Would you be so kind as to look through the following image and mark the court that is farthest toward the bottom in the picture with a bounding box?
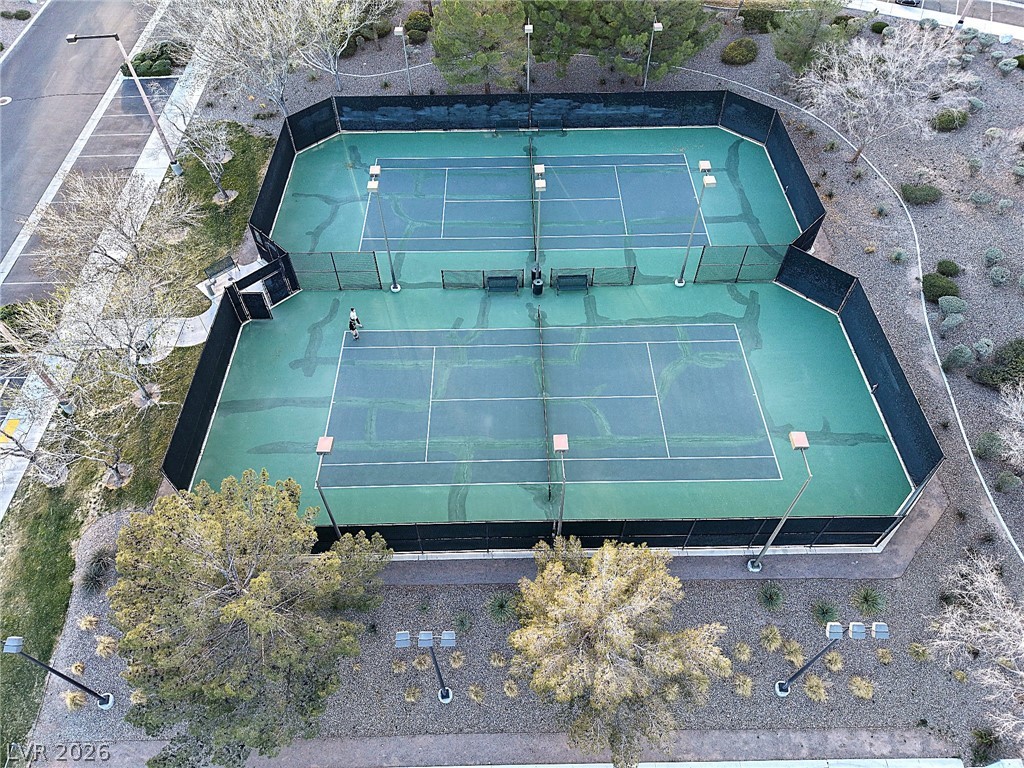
[189,281,911,528]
